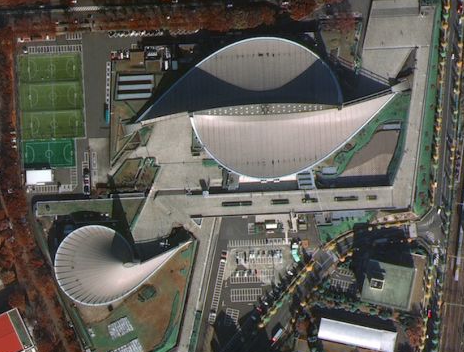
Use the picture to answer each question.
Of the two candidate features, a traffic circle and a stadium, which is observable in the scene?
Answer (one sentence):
This aerial view contains a stadium.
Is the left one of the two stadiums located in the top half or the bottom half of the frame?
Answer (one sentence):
It is in the bottom half that the left one of the two stadiums appears.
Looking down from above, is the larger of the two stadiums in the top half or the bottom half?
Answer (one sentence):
Seen from above, the larger of the two stadiums lies in the top half of the view.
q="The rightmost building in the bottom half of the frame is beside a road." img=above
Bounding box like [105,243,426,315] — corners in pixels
[360,259,415,312]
